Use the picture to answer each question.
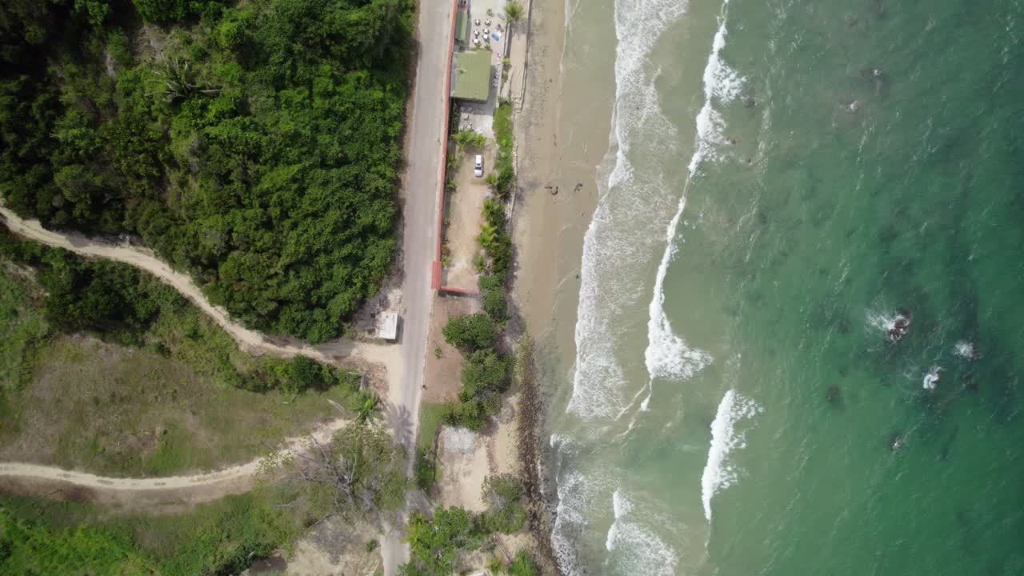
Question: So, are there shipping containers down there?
No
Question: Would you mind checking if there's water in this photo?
Yes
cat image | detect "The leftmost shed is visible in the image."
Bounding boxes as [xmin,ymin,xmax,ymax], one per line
[378,309,399,339]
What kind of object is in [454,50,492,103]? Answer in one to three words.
house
